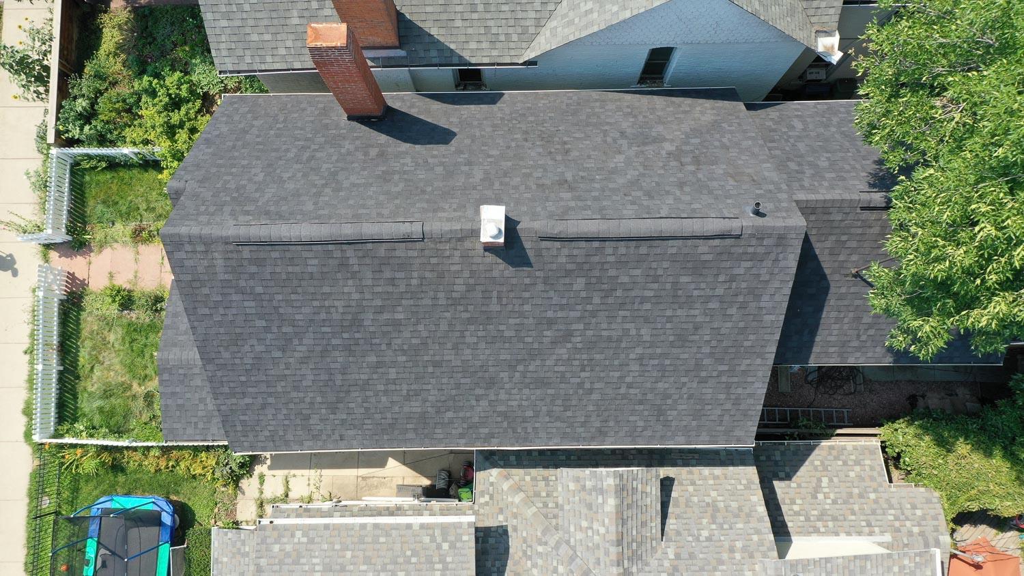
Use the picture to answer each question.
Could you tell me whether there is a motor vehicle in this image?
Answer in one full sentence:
No, no motor vehicle can be seen from above.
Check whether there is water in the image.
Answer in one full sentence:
No, water can't be seen anywhere here.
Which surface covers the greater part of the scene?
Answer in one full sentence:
The largest share of the image is taken up by buildings.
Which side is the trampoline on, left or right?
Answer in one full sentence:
You can find the trampoline on the left side of the picture.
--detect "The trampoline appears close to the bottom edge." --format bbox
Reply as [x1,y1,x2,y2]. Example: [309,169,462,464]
[47,491,179,576]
